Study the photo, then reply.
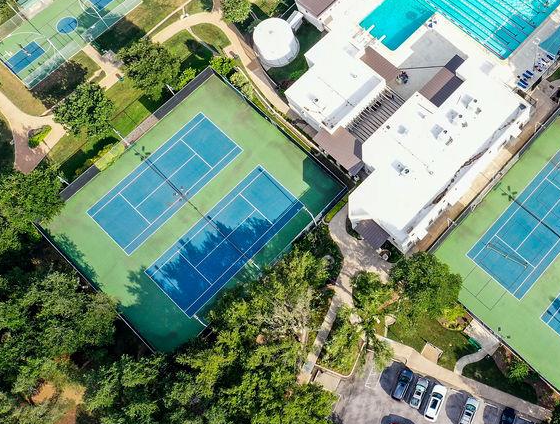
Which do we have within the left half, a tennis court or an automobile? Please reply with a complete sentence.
Visible within the left half is a tennis court.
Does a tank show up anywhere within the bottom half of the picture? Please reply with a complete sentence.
No, there's no tank to be seen within the bottom half of the picture.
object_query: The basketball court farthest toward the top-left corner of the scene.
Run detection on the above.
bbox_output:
[0,0,143,93]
